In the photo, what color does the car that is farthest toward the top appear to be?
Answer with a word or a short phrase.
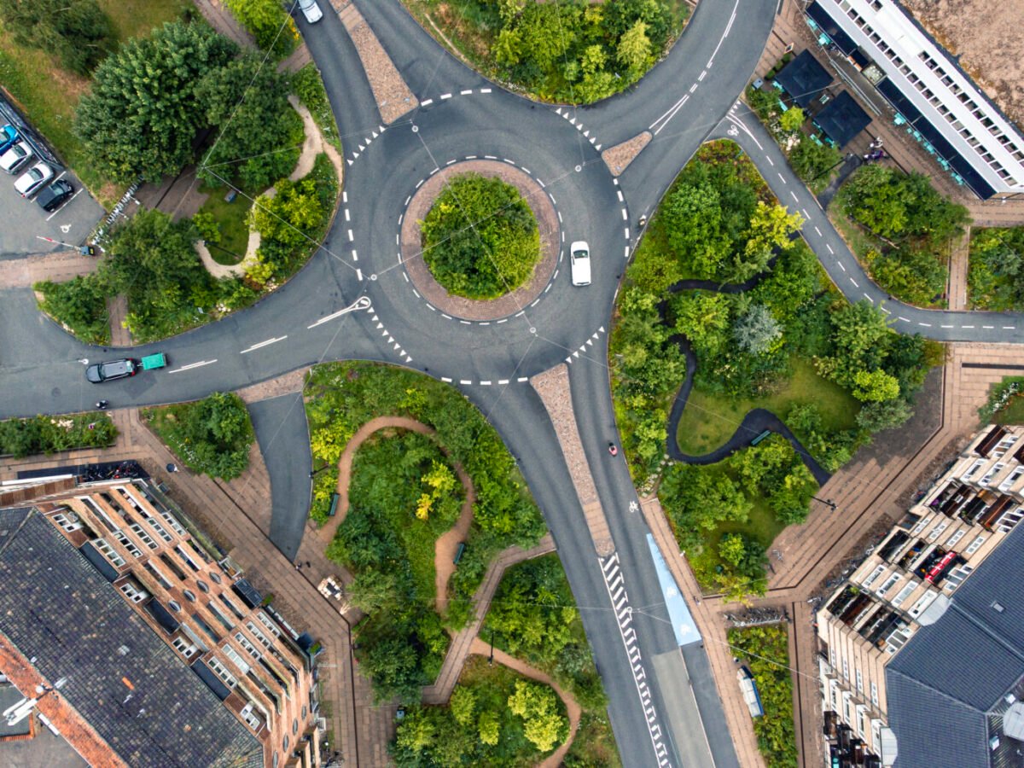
white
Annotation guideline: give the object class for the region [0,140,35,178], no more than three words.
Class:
car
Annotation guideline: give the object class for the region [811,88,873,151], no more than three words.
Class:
umbrella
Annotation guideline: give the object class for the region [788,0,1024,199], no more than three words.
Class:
building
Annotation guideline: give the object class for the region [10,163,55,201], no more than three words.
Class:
car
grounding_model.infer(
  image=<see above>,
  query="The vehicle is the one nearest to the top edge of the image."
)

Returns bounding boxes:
[294,0,322,25]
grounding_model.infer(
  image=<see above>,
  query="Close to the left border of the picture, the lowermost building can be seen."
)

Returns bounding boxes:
[0,465,346,768]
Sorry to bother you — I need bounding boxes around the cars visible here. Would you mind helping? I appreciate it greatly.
[10,163,55,201]
[0,140,35,178]
[0,122,23,155]
[570,242,592,286]
[33,178,75,214]
[87,358,137,382]
[294,0,322,25]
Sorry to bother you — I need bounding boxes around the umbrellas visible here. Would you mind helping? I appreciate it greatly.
[811,88,873,151]
[772,48,835,110]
